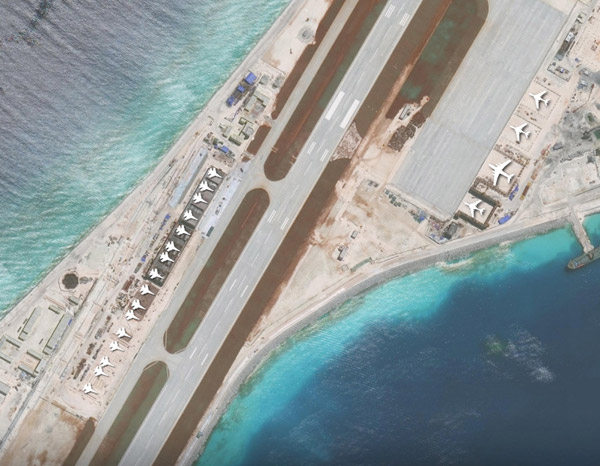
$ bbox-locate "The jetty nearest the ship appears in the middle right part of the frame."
[571,216,594,253]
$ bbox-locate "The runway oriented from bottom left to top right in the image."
[118,0,422,466]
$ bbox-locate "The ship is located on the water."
[570,248,600,269]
